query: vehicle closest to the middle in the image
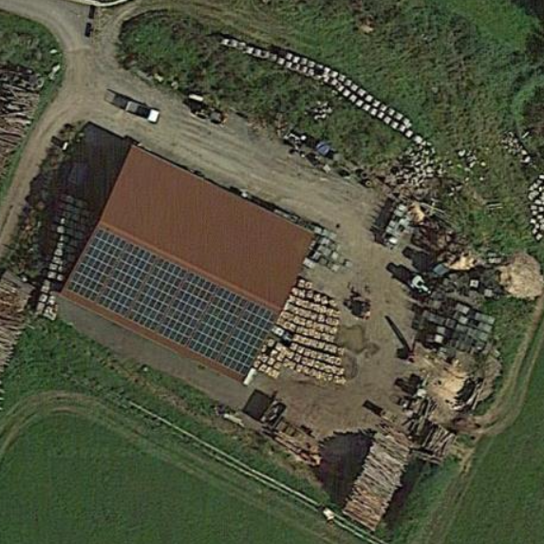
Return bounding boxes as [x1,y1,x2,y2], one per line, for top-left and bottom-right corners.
[347,288,368,317]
